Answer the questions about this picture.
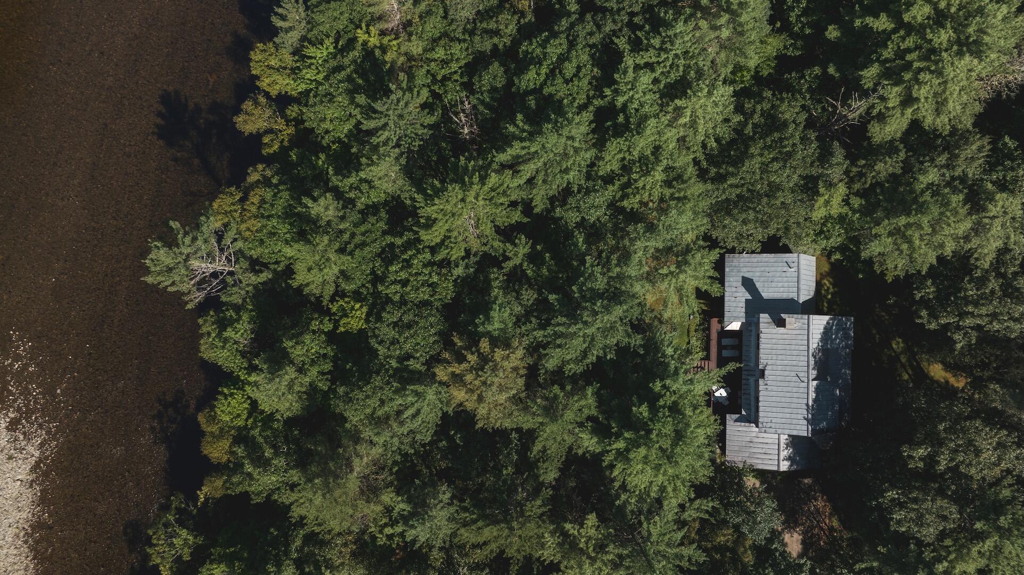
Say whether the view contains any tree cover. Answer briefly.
Yes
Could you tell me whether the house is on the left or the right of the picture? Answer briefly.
right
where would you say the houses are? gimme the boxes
[716,250,854,470]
